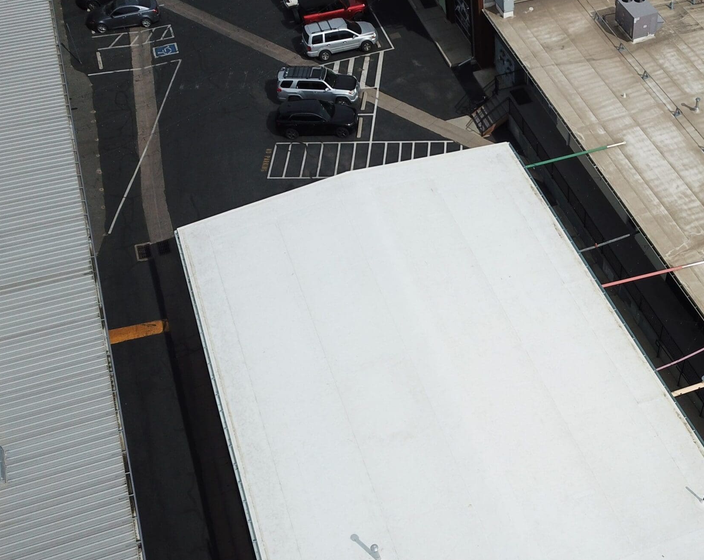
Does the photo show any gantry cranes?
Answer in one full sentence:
No, there isn't any gantry crane down there.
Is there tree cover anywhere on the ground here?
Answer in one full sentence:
No, no tree cover is visible.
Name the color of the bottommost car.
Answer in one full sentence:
The color of the bottommost car is black.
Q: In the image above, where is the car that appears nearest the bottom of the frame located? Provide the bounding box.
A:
[271,94,361,139]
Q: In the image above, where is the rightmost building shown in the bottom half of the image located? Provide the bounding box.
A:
[175,141,704,560]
